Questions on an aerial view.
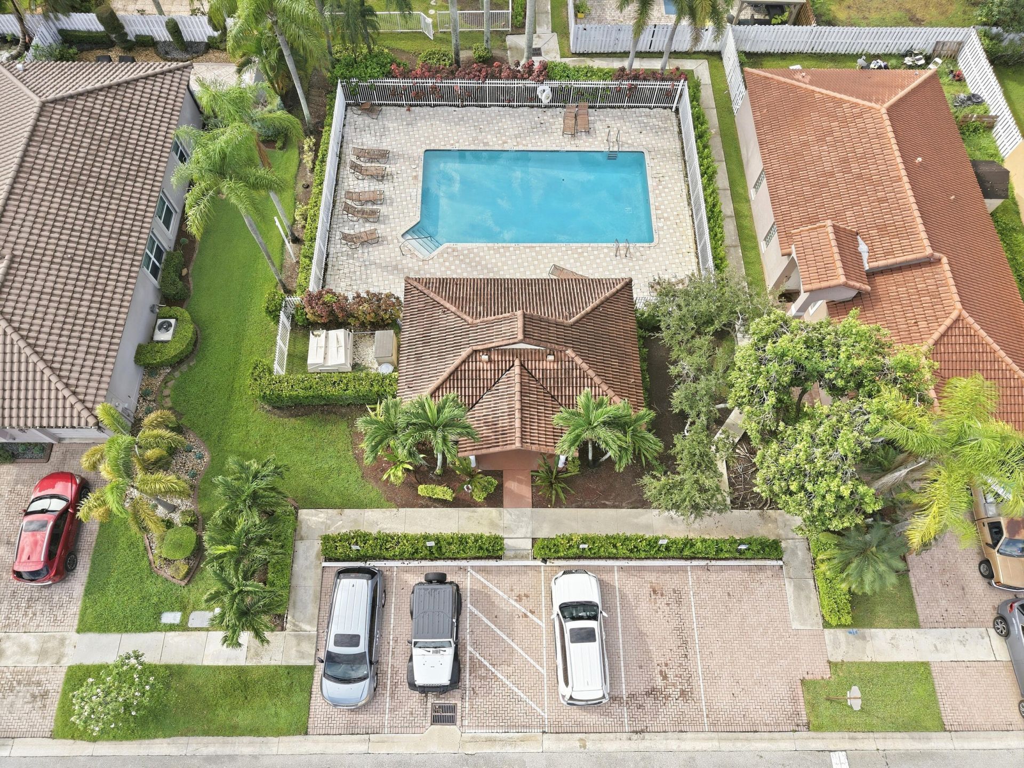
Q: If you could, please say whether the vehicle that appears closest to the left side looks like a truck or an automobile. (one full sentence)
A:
The vehicle that appears closest to the left side appears to be an automobile.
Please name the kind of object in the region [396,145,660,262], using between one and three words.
swimming pool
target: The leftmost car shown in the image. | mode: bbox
[5,472,93,589]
